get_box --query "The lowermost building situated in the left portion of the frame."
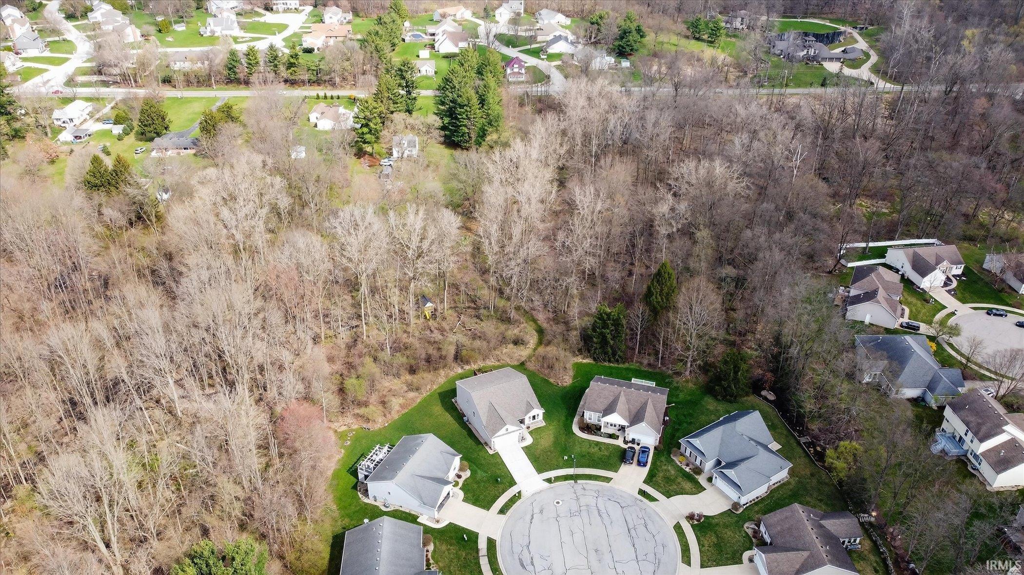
[340,525,423,575]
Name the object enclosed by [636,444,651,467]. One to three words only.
car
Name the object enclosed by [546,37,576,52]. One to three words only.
house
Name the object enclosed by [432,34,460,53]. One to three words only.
house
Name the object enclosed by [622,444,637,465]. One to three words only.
car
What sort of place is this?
residential area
